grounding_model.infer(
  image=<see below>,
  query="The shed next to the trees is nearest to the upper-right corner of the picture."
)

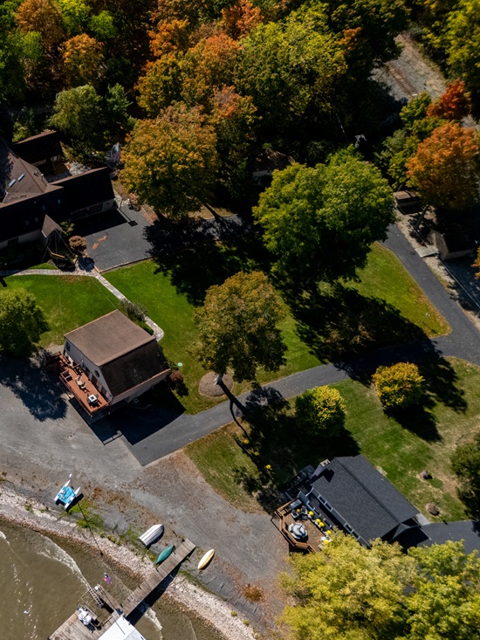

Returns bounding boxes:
[388,189,420,208]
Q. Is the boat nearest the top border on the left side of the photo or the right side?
left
